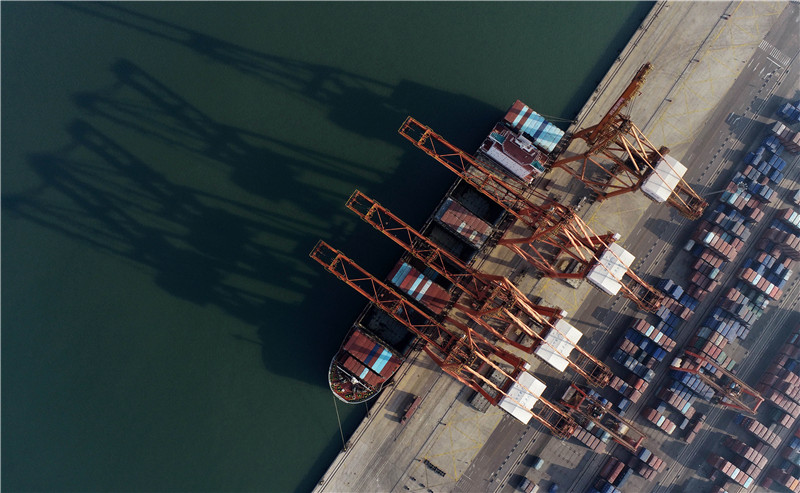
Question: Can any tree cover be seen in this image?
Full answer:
No, there is no tree cover in the image.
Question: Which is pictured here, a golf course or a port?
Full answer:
What you see here is a port.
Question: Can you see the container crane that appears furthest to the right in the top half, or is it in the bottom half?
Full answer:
The container crane that appears furthest to the right sits in the bottom half of the picture.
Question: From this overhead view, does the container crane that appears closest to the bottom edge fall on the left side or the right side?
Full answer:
You can find the container crane that appears closest to the bottom edge on the right side of the picture.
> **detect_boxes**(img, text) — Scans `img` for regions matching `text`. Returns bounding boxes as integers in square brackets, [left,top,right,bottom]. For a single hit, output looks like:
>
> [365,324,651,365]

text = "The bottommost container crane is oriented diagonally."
[559,380,646,452]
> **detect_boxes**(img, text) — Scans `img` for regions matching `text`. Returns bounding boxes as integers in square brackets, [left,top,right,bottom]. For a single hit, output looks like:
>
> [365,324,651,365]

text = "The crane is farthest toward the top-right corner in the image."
[545,59,707,221]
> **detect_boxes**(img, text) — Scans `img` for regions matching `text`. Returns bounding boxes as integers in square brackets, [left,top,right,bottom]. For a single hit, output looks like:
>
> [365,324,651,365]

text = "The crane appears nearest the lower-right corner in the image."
[667,345,765,415]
